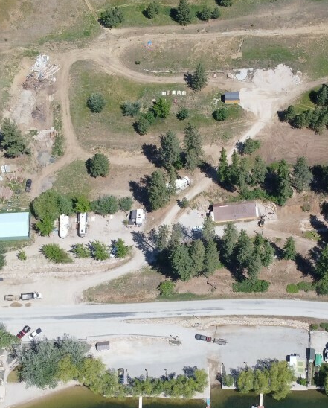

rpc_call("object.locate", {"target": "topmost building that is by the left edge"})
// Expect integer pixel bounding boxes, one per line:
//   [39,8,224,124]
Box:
[0,213,32,243]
